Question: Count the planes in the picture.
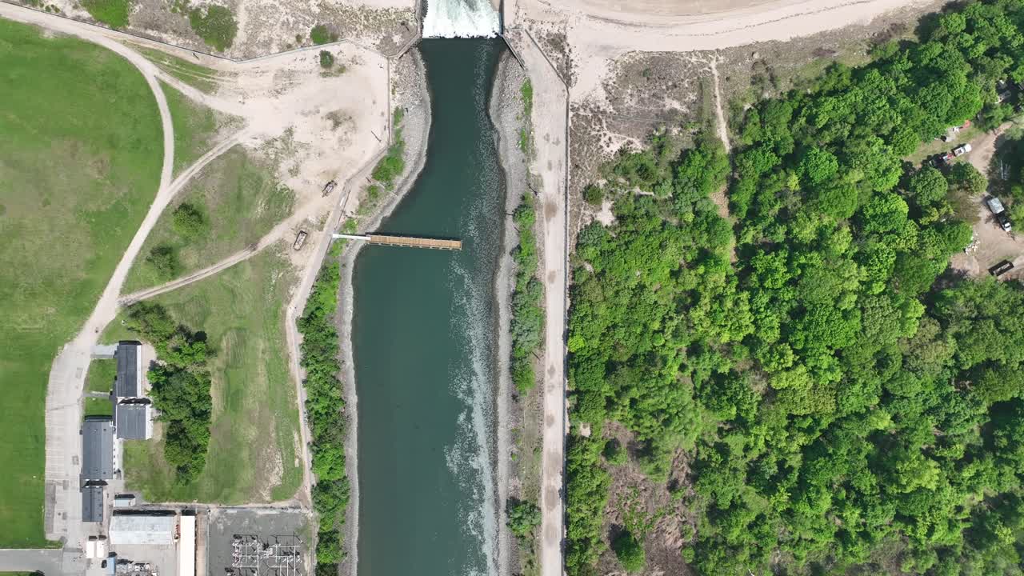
0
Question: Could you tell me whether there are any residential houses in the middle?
No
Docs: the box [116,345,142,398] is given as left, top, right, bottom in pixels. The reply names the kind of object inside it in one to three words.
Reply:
house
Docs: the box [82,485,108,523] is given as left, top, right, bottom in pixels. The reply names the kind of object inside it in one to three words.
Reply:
building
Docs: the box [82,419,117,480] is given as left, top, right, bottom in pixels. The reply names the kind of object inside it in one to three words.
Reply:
house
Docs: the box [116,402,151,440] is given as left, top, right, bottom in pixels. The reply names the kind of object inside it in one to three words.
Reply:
building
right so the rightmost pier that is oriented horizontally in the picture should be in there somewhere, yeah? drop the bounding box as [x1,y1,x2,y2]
[365,231,463,251]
